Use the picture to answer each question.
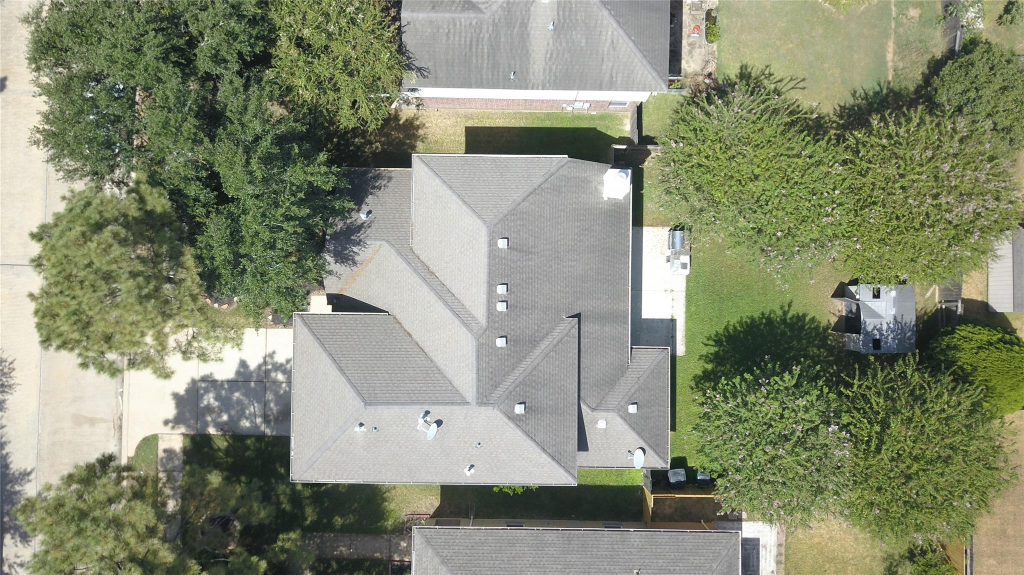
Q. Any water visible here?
No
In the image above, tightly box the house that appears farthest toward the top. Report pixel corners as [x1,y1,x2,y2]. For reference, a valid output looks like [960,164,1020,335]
[398,0,671,114]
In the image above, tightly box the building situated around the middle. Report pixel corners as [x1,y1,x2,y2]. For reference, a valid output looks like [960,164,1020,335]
[289,153,672,487]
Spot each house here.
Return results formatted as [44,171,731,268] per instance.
[398,0,671,114]
[410,512,744,575]
[289,153,672,487]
